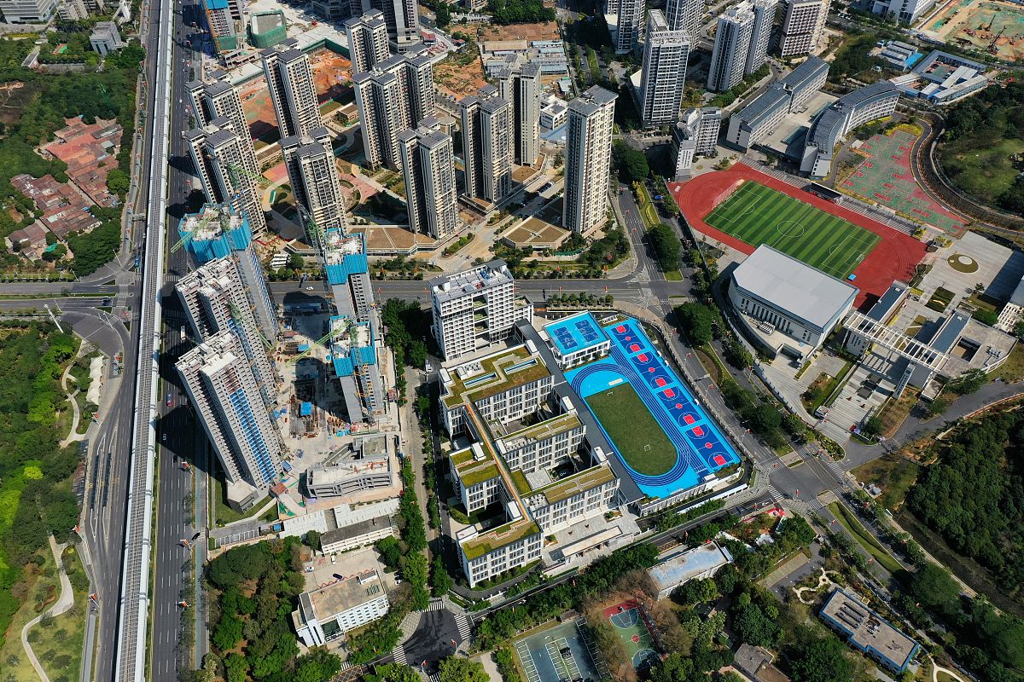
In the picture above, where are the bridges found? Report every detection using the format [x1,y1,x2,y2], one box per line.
[113,0,174,682]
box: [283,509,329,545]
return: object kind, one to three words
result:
shed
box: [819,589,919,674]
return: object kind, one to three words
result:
building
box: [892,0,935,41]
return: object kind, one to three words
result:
building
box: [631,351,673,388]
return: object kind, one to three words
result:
basketball court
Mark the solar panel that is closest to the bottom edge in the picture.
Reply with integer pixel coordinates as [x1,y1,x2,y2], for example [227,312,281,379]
[441,275,504,301]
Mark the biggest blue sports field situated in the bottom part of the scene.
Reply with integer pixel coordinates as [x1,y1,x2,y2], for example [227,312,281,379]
[563,315,744,508]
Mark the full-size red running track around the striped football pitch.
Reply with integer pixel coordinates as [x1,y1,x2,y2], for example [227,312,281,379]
[668,161,927,314]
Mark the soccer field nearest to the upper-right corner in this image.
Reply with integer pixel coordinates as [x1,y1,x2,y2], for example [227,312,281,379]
[700,177,884,281]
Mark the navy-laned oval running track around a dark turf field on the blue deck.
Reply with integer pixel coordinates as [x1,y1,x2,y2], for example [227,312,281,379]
[572,342,703,483]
